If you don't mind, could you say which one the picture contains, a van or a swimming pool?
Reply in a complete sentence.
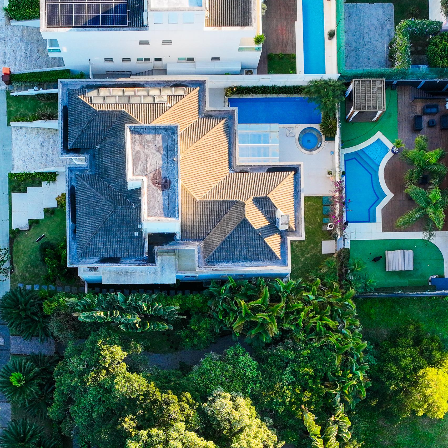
Looking from above, you can make out a swimming pool.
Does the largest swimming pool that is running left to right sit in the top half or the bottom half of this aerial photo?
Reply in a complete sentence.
You can find the largest swimming pool that is running left to right in the top half.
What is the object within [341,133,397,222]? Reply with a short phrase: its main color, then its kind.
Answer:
blue swimming pool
